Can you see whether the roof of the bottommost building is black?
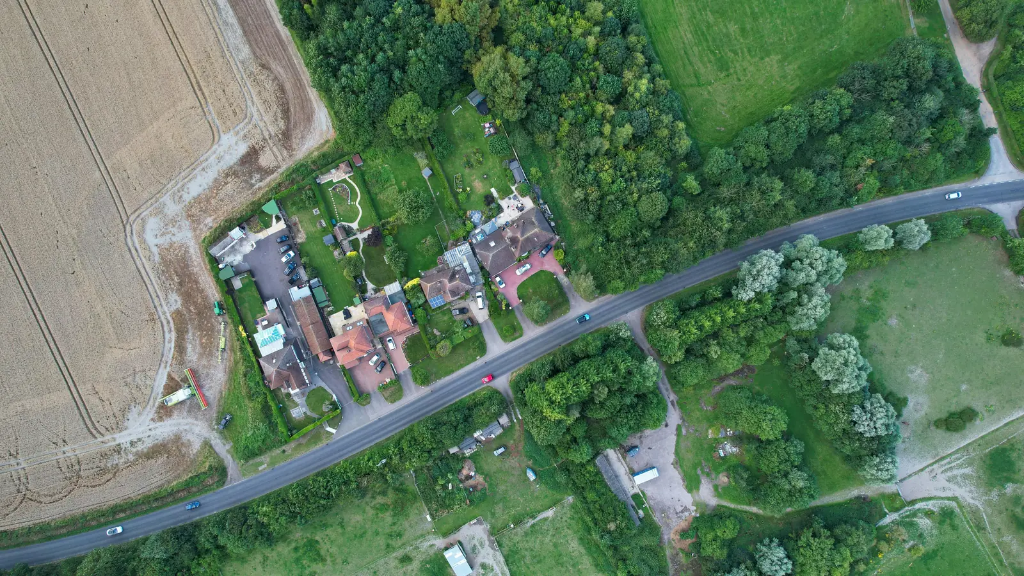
No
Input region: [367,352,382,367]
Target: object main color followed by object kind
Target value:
white car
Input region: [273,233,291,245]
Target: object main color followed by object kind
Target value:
blue vehicle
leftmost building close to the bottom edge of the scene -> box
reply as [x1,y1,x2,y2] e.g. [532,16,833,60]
[444,541,472,576]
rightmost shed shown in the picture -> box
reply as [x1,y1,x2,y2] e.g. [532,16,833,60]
[596,455,640,525]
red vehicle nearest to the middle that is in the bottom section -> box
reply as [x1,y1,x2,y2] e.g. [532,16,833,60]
[479,373,496,385]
